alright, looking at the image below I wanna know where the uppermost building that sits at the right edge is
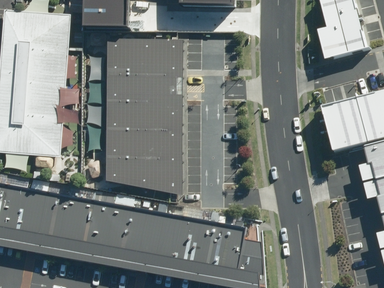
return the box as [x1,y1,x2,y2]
[318,0,372,60]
